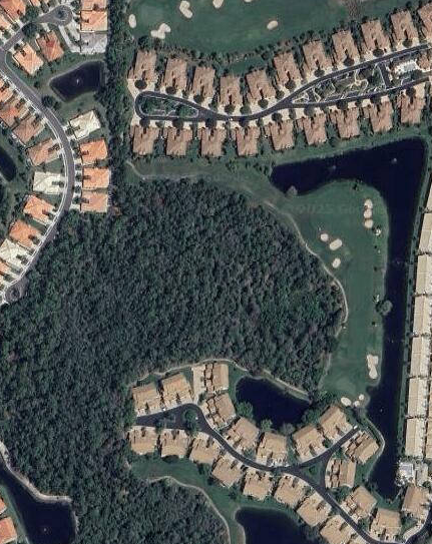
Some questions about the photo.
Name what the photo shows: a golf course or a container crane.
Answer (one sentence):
The image shows a golf course.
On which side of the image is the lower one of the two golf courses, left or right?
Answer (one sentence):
You can find the lower one of the two golf courses on the right side of the picture.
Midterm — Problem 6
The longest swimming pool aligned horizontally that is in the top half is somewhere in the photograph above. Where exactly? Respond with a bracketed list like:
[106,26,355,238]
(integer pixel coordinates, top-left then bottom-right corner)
[395,60,418,73]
